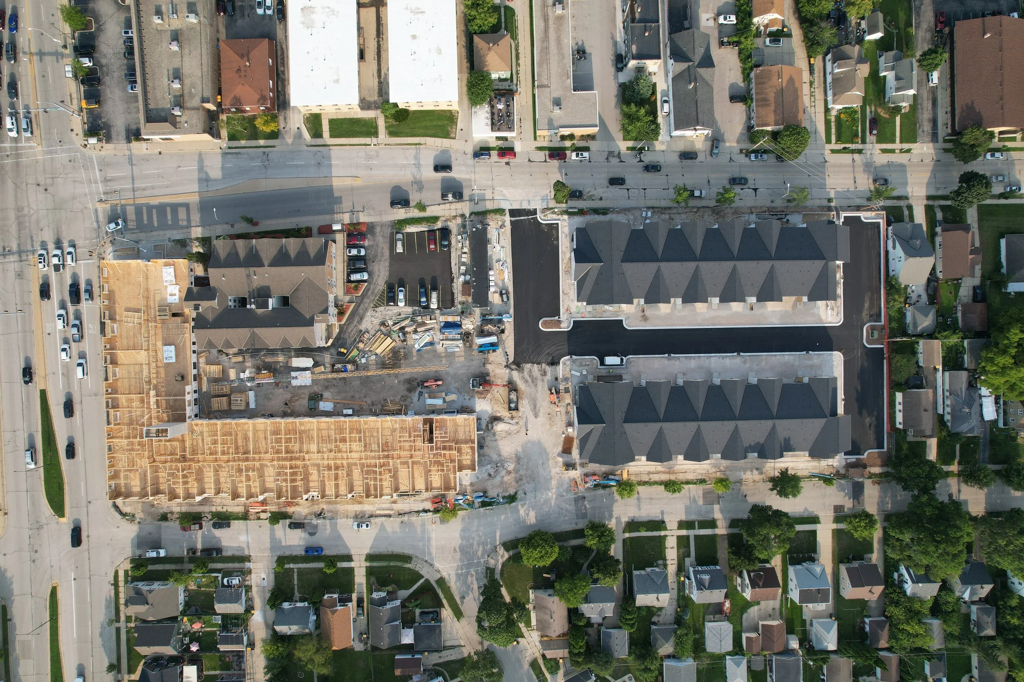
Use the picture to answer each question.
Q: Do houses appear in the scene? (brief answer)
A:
Yes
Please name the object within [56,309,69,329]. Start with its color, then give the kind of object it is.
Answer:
white vehicle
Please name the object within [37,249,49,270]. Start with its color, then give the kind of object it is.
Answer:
white vehicle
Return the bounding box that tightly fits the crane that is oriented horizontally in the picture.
[211,361,448,388]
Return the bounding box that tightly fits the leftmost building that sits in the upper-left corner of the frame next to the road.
[130,0,218,142]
